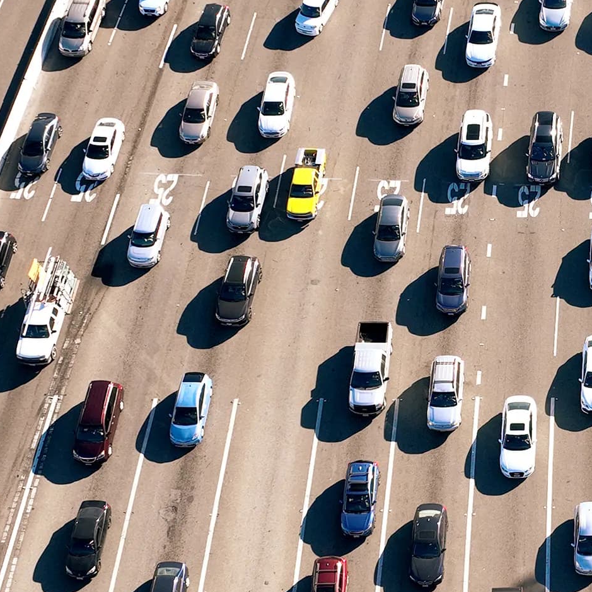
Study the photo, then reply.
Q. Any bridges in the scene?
No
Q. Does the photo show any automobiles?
Yes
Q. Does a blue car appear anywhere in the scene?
Yes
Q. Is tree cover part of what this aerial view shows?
No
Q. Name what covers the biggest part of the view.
paved ground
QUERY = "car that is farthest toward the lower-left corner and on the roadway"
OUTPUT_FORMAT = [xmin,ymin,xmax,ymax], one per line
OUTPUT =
[61,496,115,583]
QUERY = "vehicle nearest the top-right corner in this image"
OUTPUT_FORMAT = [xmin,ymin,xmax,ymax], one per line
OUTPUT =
[538,0,571,33]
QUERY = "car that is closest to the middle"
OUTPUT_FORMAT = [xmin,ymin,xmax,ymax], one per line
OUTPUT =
[214,255,261,328]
